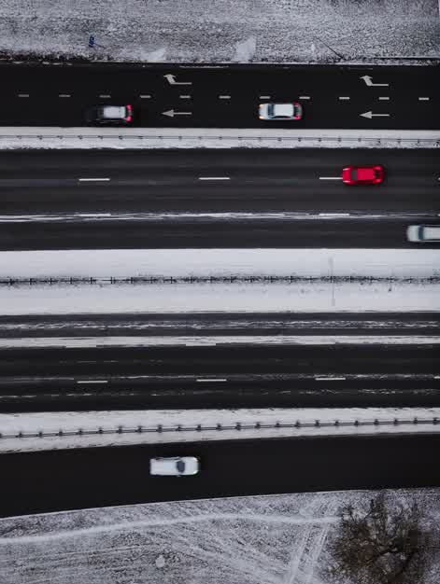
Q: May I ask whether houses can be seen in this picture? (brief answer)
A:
No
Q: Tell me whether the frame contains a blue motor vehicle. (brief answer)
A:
No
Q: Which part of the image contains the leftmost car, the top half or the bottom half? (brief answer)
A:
top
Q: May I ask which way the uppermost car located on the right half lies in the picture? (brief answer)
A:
from left to right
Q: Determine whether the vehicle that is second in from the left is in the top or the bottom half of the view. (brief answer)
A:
bottom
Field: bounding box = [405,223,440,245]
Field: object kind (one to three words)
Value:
car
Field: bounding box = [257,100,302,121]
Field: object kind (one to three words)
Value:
car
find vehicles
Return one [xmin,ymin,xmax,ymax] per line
[341,164,383,187]
[85,104,132,126]
[257,100,302,121]
[148,456,201,478]
[405,223,440,245]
